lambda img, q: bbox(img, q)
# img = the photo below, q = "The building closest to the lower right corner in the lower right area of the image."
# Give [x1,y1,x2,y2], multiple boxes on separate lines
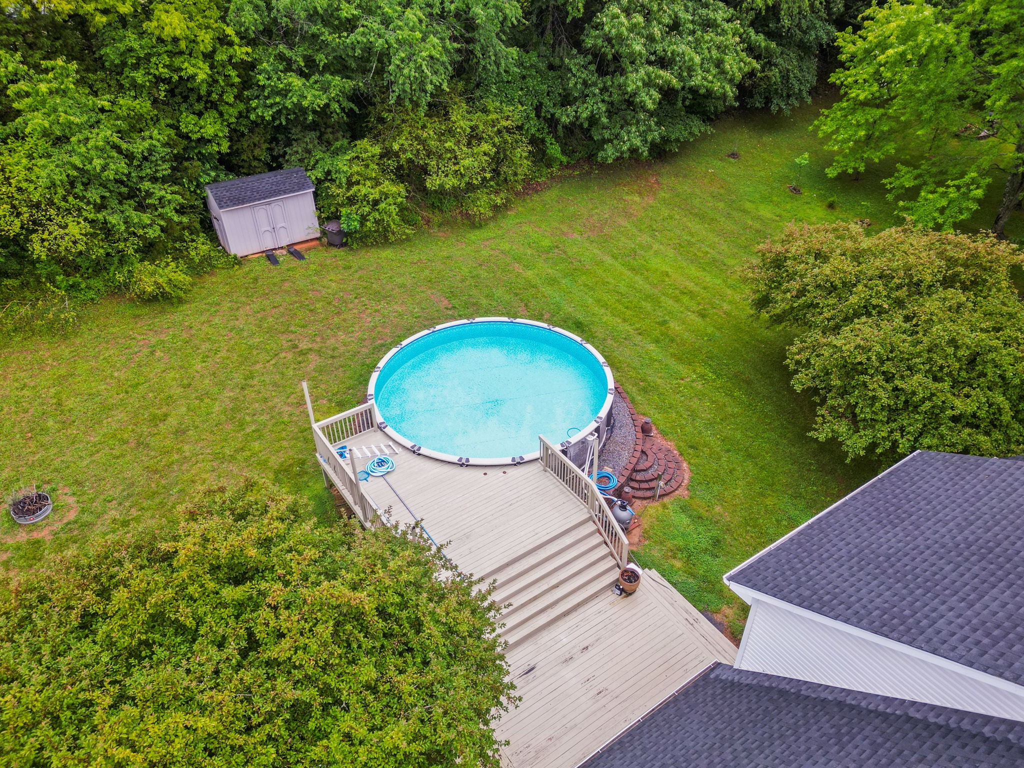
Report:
[565,437,1024,768]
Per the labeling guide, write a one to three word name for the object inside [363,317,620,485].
swimming pool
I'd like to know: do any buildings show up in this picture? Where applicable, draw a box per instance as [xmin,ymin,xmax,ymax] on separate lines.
[200,166,320,261]
[565,437,1024,768]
